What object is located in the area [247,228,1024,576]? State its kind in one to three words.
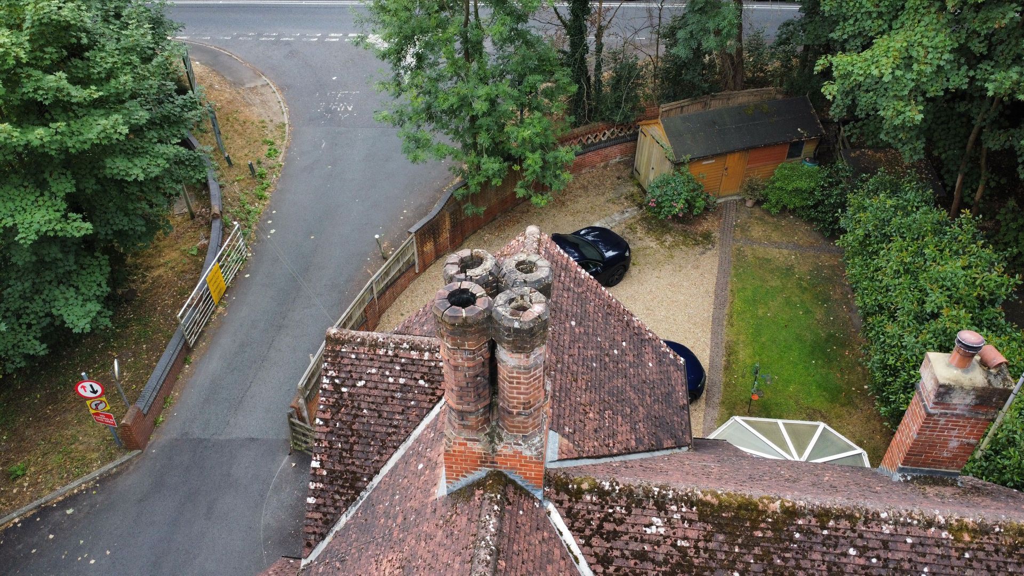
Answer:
house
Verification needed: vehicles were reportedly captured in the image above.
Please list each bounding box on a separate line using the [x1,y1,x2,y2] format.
[540,232,635,288]
[652,331,709,398]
